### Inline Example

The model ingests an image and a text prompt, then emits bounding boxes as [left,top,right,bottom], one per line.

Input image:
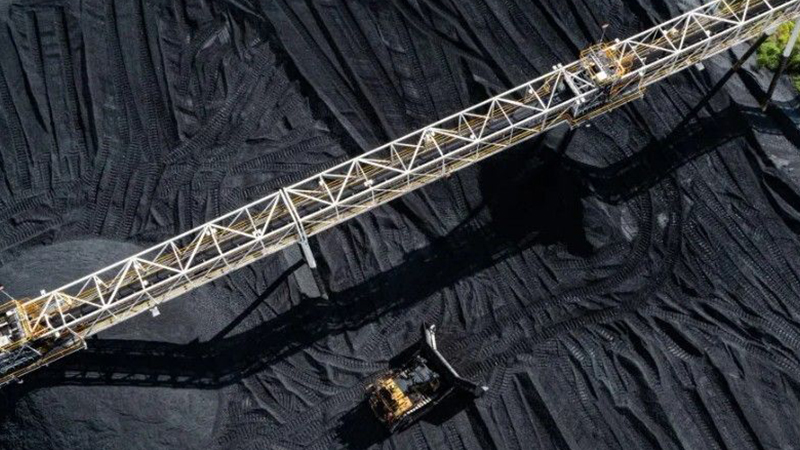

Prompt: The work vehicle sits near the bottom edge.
[370,323,485,434]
